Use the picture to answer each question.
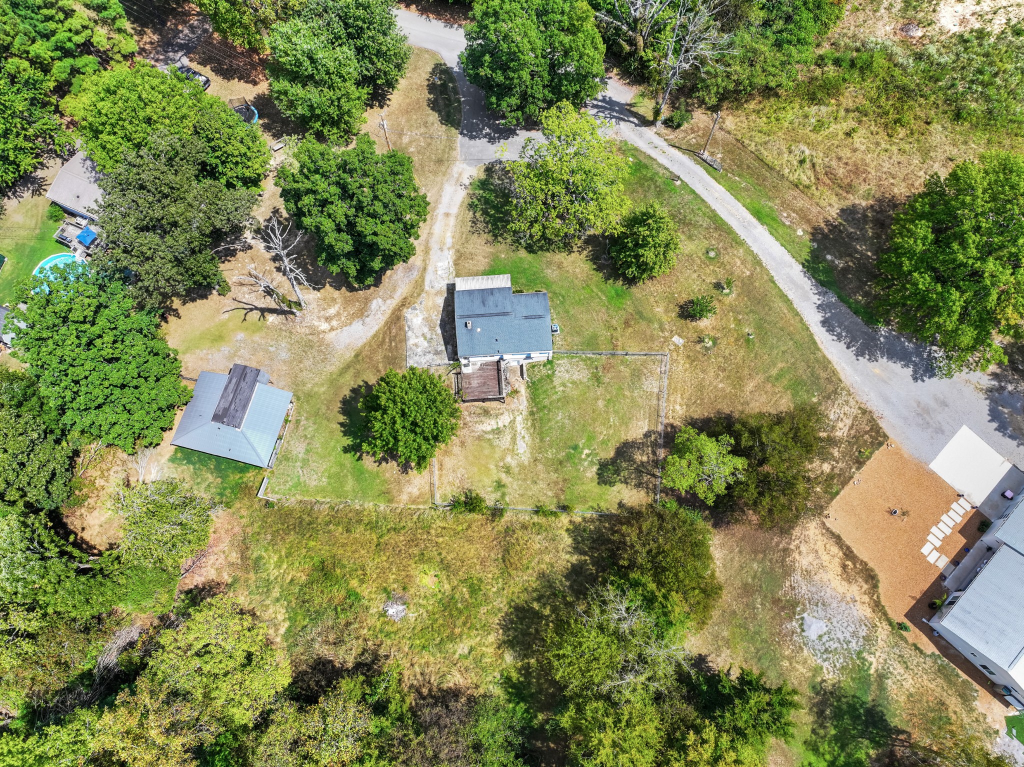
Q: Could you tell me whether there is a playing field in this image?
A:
No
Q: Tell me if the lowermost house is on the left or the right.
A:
right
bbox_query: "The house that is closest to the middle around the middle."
[454,273,553,362]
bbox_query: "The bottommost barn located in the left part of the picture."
[171,362,300,468]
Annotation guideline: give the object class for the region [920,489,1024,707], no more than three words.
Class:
house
